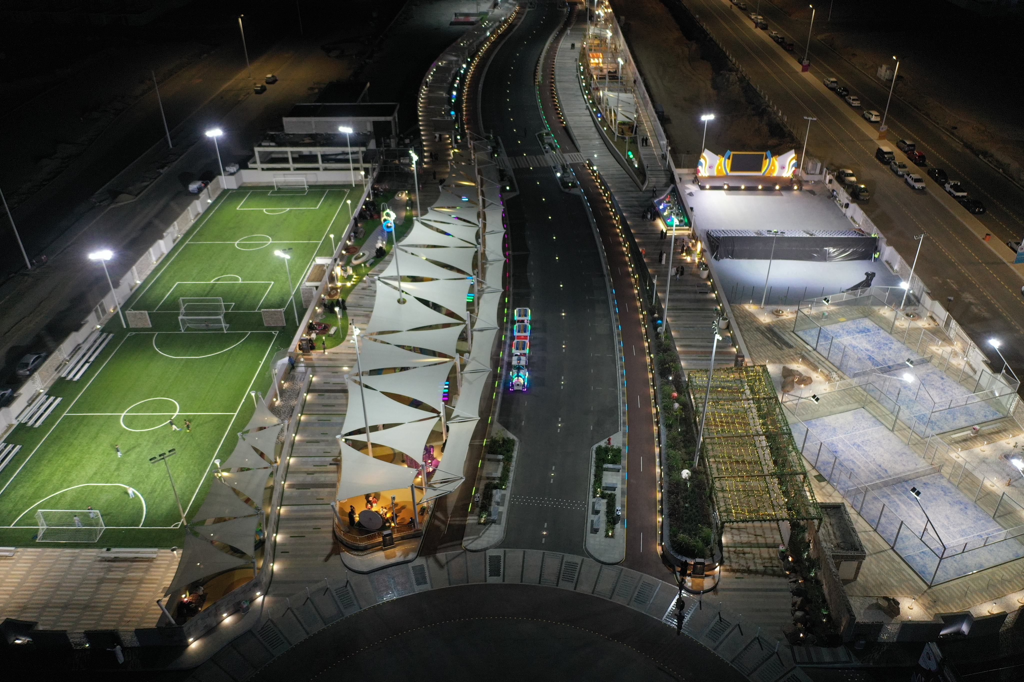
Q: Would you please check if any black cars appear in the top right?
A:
Yes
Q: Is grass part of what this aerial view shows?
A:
Yes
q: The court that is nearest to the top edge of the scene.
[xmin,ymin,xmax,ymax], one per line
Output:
[794,278,1024,440]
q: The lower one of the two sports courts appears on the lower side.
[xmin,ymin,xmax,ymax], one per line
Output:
[774,367,1024,587]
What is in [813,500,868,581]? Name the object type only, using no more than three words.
shed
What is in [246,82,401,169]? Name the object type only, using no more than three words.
building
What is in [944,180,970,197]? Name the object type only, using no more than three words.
vehicle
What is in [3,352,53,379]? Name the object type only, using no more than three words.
car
